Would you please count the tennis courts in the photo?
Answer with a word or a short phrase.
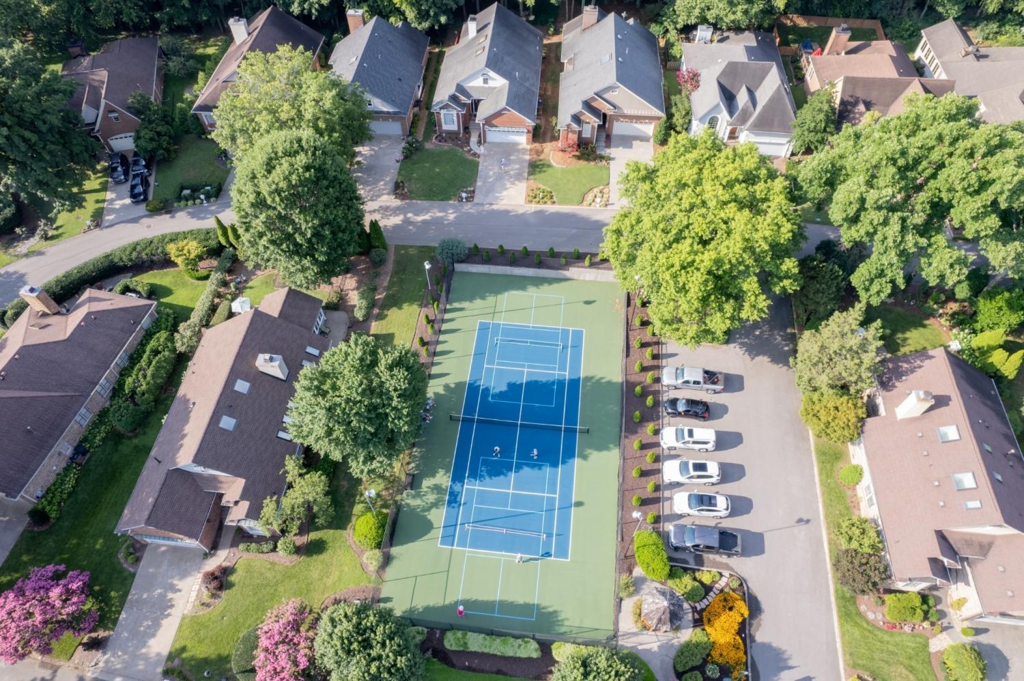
1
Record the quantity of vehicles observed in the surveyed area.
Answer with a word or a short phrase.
9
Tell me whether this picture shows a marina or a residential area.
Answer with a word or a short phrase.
residential area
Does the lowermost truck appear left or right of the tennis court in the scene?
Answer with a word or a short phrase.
to the right of it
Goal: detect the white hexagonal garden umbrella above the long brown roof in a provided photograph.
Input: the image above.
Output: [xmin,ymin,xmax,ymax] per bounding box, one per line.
[230,296,257,316]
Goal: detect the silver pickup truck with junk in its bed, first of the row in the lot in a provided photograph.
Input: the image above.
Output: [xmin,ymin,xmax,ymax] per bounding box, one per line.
[662,368,725,396]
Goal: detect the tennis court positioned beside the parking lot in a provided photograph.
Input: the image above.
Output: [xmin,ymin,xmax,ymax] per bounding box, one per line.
[383,269,624,642]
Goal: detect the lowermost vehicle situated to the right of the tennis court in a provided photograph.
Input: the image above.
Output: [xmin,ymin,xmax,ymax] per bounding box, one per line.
[668,525,745,561]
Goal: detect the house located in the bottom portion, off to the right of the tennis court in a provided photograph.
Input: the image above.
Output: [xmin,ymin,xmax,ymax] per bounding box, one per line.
[851,349,1024,636]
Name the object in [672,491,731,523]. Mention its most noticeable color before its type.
white car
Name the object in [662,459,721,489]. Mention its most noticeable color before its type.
white car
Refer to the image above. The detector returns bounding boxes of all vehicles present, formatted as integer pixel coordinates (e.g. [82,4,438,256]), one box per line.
[662,368,725,396]
[672,491,731,523]
[664,397,709,423]
[662,459,721,489]
[107,153,130,186]
[659,426,717,456]
[128,173,150,204]
[668,525,745,561]
[127,152,150,179]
